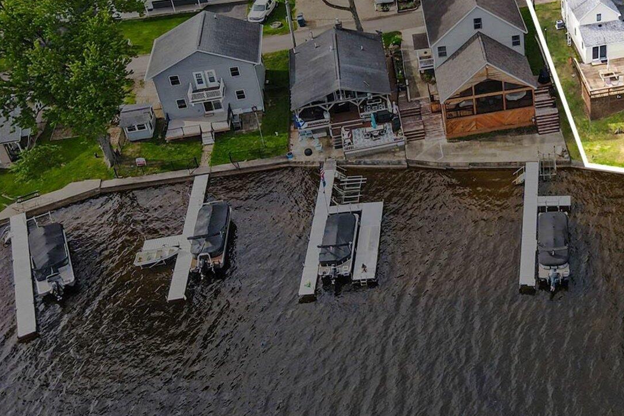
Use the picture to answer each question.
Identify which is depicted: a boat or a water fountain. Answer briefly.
boat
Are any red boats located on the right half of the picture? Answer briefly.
No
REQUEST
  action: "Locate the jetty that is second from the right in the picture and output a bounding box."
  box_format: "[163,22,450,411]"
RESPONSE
[297,163,384,298]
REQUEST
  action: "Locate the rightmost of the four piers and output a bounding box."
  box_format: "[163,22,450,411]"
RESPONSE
[518,164,571,291]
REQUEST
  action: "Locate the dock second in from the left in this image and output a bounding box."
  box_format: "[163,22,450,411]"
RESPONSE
[141,173,211,306]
